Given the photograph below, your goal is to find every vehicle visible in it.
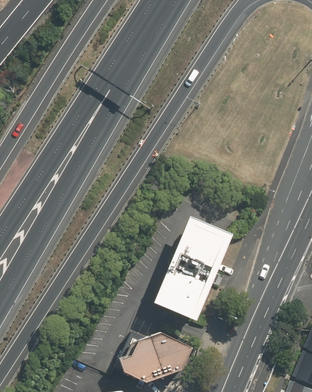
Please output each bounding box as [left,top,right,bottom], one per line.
[72,362,86,372]
[220,266,234,276]
[259,264,270,280]
[148,380,161,392]
[137,379,144,392]
[11,124,24,138]
[184,68,199,86]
